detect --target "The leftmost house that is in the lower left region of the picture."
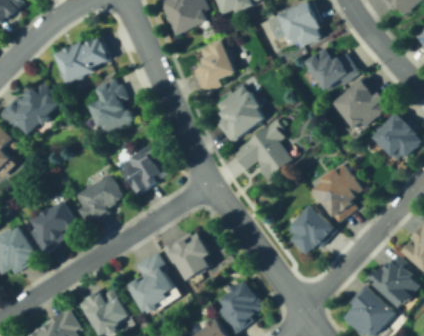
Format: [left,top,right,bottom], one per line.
[0,227,35,276]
